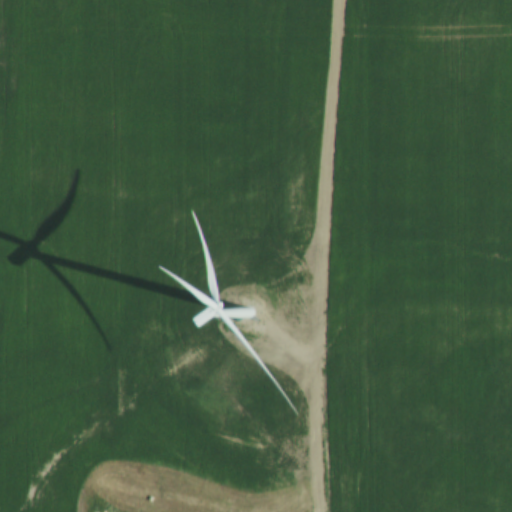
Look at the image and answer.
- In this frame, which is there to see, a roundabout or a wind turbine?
wind turbine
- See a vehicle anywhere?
No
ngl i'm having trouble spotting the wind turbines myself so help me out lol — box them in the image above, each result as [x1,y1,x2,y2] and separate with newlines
[160,210,298,414]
